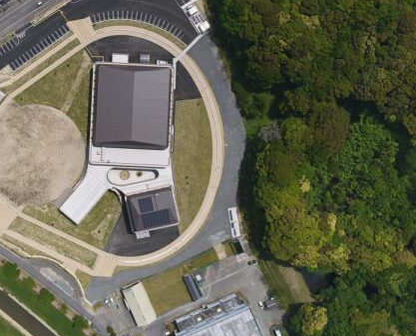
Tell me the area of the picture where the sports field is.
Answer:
left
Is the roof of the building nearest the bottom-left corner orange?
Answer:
No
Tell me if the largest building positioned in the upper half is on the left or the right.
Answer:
left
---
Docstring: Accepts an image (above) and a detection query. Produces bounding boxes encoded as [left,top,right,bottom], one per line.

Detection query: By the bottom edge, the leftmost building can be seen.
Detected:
[122,280,157,328]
